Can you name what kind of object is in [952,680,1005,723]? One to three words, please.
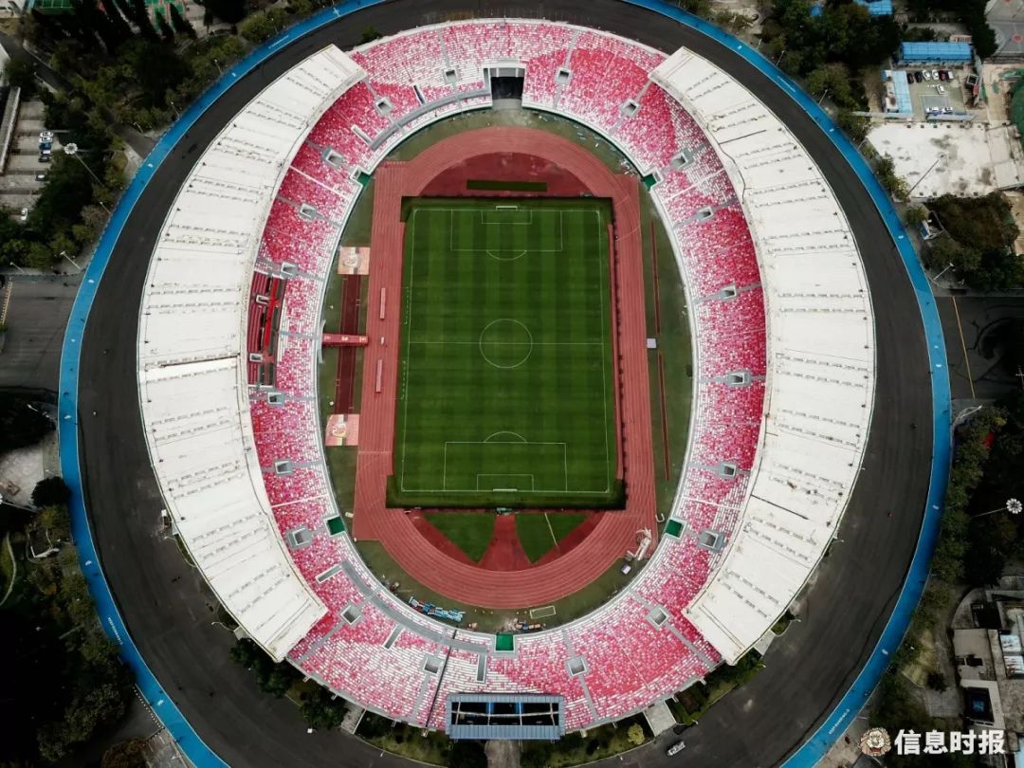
building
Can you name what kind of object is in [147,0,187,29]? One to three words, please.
sports court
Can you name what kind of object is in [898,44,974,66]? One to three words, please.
building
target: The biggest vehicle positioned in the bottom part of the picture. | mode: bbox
[668,741,684,755]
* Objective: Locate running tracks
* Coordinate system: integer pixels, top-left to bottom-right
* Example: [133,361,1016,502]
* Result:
[354,126,659,607]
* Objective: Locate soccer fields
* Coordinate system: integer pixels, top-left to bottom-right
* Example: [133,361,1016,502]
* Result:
[386,198,624,506]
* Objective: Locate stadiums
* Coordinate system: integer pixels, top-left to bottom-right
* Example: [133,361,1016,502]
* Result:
[135,19,875,739]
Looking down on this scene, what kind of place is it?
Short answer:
sports ground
